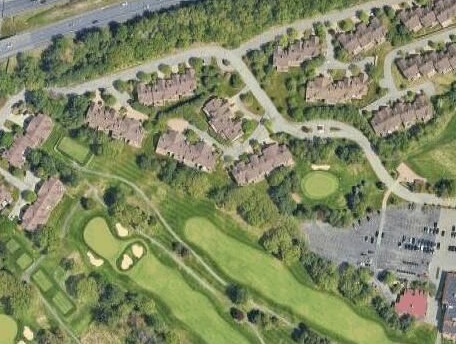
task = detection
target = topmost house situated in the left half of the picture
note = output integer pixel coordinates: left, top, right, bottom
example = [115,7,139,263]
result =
[138,70,197,108]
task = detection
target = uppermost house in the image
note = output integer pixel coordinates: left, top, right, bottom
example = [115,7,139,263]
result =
[401,0,456,36]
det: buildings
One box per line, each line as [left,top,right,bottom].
[396,288,428,320]
[373,91,435,141]
[275,37,323,72]
[340,18,389,59]
[438,267,456,344]
[401,0,456,36]
[233,141,295,188]
[307,75,369,105]
[201,100,247,143]
[5,113,54,170]
[159,133,216,169]
[87,105,145,144]
[138,70,197,108]
[23,177,65,233]
[398,41,456,86]
[0,184,16,216]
